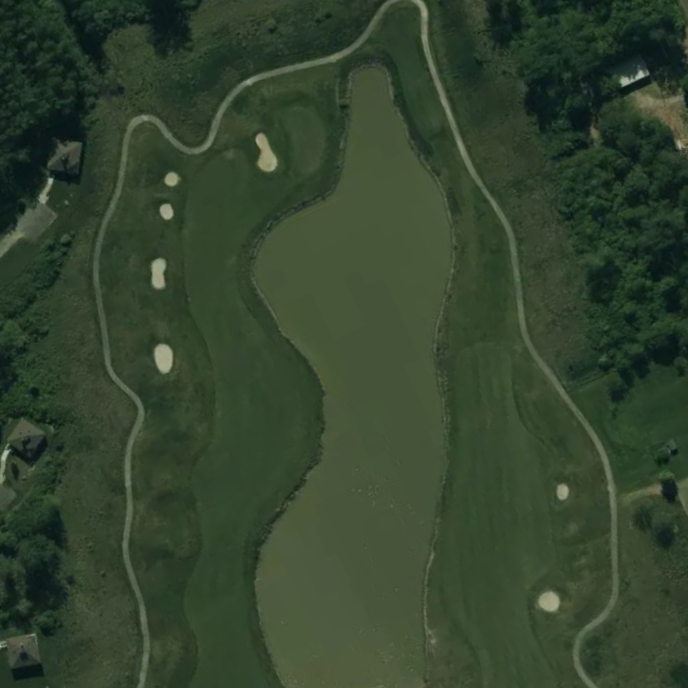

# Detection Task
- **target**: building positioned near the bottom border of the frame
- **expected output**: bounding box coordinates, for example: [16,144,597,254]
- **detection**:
[6,632,41,669]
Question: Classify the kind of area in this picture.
golf course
